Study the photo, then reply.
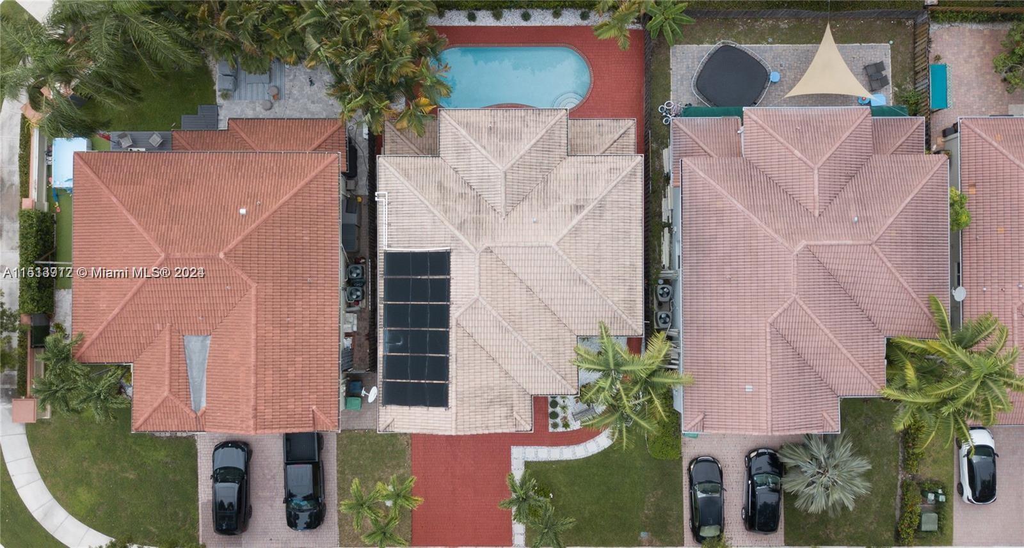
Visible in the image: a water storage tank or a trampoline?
trampoline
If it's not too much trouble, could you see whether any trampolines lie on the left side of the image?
No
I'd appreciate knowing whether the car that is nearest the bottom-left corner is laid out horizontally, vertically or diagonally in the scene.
vertically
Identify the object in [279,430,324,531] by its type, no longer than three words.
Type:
truck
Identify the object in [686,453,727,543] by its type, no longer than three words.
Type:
car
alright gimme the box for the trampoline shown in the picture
[695,43,770,106]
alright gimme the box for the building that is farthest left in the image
[71,116,348,438]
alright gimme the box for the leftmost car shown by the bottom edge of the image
[206,441,251,533]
